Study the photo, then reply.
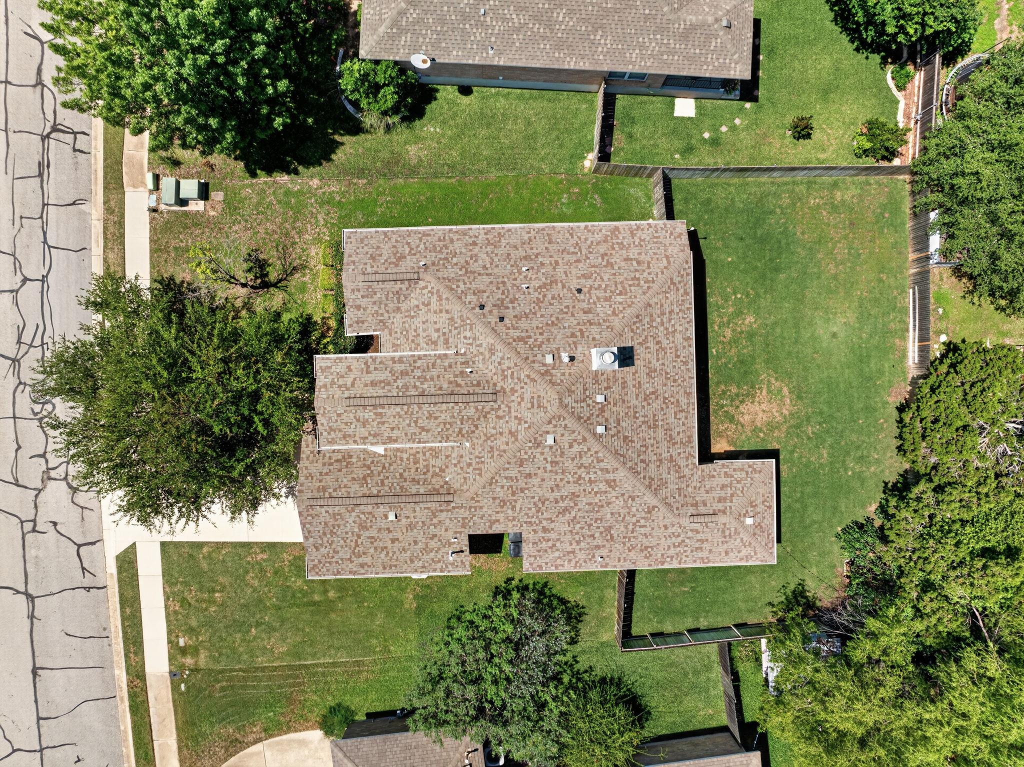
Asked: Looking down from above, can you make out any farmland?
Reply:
No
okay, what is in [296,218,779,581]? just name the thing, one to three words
house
